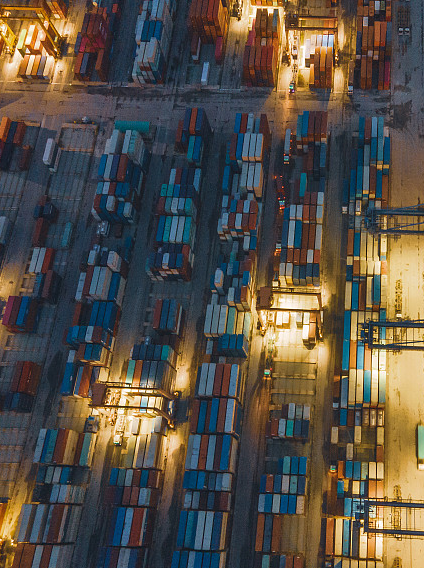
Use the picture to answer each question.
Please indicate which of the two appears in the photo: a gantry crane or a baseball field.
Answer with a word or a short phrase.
gantry crane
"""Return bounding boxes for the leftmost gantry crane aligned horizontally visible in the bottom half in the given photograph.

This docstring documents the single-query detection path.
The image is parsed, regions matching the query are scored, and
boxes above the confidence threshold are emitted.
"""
[86,381,180,425]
